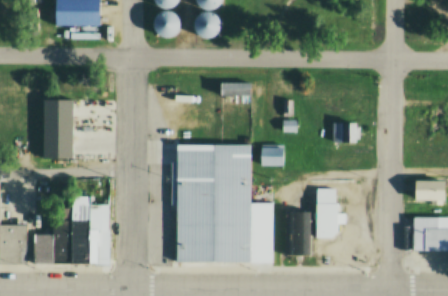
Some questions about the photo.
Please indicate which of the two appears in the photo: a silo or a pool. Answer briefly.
silo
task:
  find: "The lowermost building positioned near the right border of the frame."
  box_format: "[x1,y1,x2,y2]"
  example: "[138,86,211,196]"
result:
[414,230,448,252]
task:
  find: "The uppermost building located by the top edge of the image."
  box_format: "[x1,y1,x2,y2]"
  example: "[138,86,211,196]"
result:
[55,0,100,26]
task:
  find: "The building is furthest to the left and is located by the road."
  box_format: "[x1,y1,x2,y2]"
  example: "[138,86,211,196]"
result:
[0,224,26,264]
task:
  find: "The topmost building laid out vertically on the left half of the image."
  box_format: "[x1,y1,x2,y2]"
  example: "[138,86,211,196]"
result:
[43,100,72,159]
